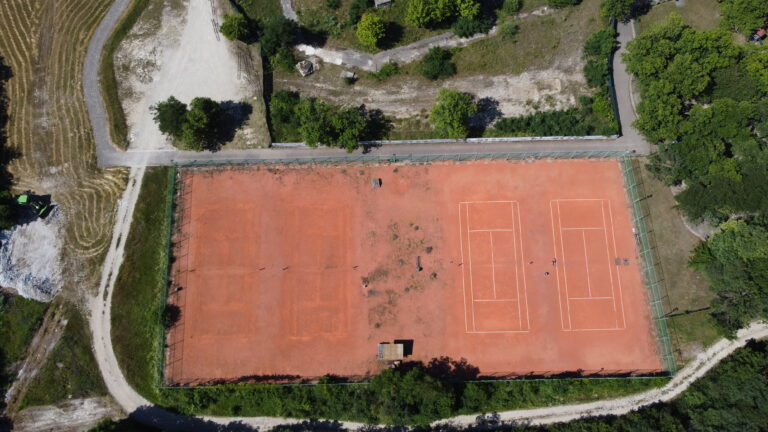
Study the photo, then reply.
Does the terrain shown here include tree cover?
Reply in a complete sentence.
Yes, tree cover shows up in the scene.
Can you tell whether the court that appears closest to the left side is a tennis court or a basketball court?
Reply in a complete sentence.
I'd say the court that appears closest to the left side is a tennis court.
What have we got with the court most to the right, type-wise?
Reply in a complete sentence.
The court most to the right is a tennis court.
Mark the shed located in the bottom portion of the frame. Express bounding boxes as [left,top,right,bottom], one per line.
[382,343,401,358]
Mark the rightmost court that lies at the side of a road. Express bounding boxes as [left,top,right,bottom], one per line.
[532,176,646,357]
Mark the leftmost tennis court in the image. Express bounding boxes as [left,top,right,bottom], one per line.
[173,182,276,364]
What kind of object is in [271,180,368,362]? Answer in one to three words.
tennis court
